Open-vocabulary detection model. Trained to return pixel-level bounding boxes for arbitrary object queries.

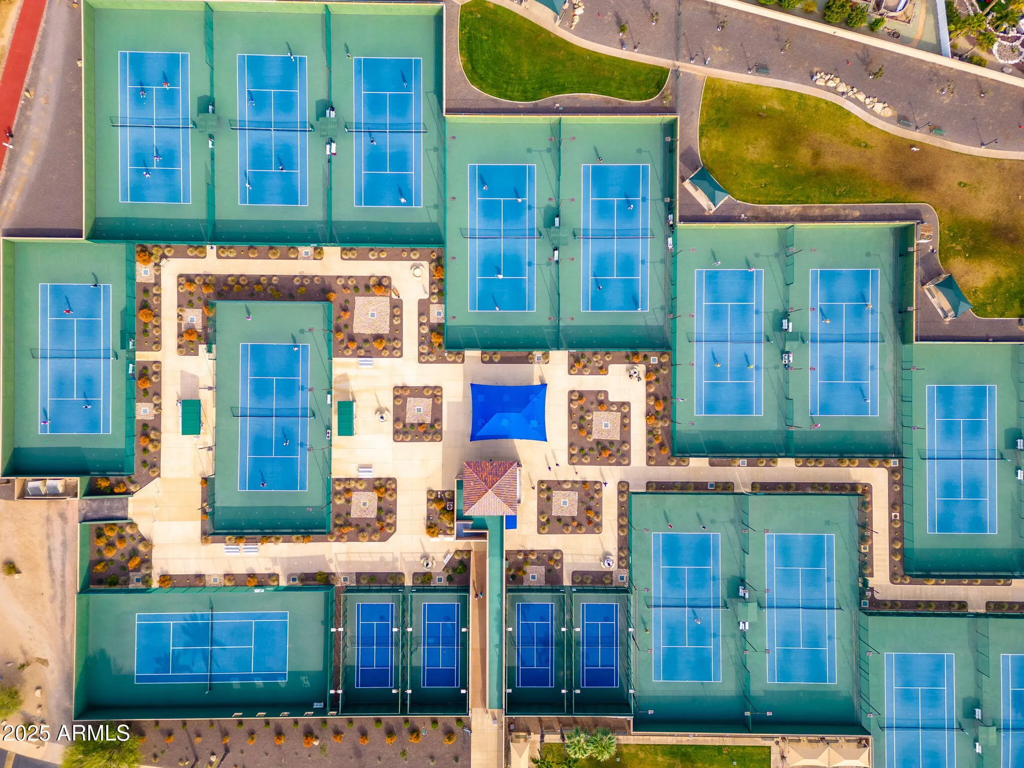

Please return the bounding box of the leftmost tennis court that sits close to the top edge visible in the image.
[94,9,214,245]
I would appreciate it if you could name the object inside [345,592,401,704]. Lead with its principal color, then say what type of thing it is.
blue tennis court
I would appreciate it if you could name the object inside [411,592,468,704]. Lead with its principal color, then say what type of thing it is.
blue tennis court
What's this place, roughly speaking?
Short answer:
sports ground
